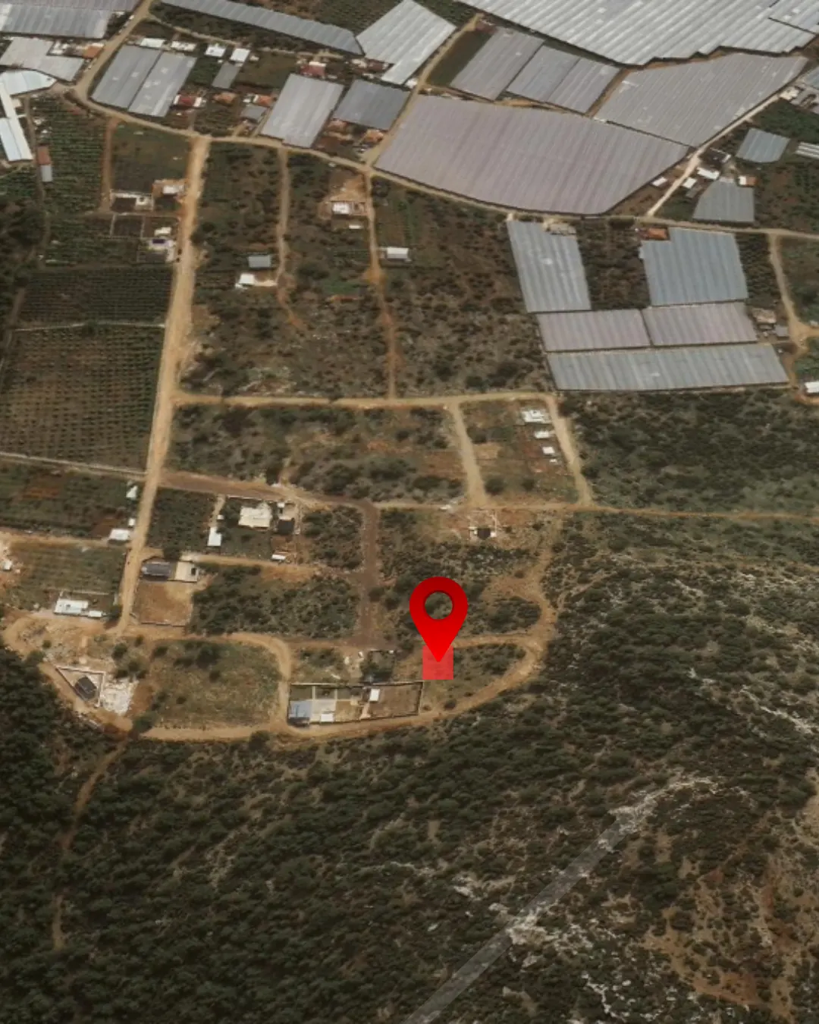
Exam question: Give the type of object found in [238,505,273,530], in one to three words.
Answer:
house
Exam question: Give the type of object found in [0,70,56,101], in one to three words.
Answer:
building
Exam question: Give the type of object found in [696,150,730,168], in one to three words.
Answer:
shed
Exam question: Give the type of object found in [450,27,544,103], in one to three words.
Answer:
greenhouse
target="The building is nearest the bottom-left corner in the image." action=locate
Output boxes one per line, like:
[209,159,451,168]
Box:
[75,677,97,704]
